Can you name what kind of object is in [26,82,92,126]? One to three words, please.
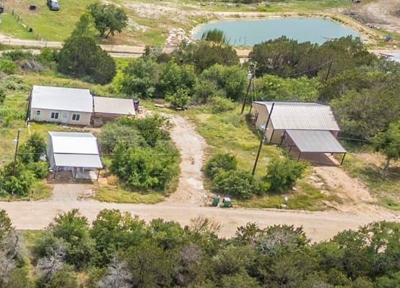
house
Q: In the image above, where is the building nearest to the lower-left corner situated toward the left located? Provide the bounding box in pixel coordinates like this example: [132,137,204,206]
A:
[45,133,104,182]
